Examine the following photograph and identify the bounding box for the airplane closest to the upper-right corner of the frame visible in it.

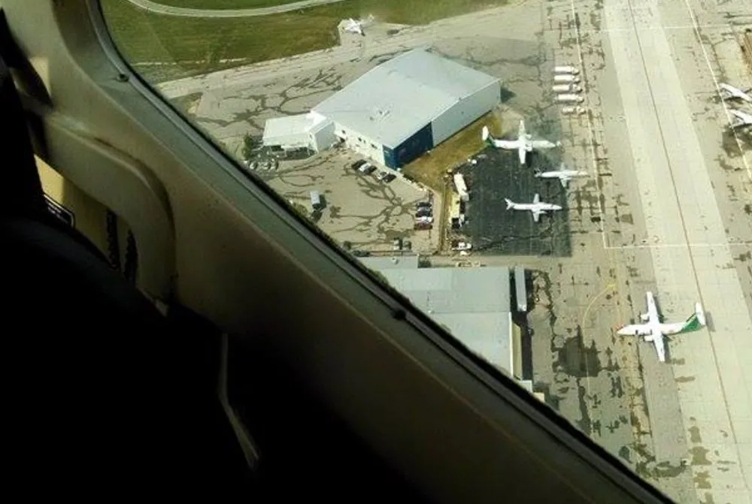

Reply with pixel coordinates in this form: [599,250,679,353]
[719,81,752,103]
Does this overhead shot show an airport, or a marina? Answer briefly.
airport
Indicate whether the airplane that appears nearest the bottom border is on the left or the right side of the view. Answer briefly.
right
